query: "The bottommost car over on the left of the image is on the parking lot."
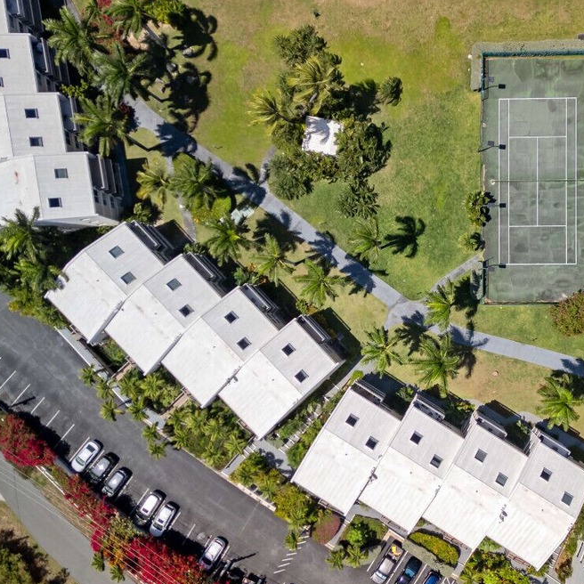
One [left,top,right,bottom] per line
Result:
[199,537,227,571]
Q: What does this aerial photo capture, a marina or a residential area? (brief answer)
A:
residential area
